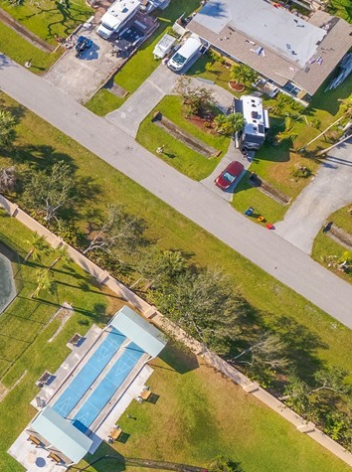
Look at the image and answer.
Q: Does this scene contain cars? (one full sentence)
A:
Yes, I can see a car in this picture.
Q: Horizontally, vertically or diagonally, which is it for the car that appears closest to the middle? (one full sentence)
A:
The car that appears closest to the middle runs diagonally in the image.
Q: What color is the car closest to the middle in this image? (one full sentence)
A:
The car closest to the middle looks red in the image.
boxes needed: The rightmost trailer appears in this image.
[237,92,275,163]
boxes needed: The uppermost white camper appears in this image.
[98,0,142,39]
